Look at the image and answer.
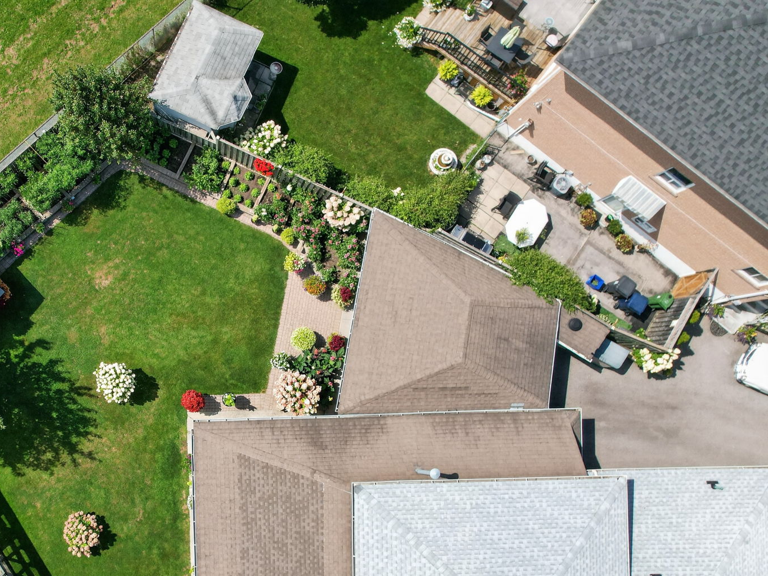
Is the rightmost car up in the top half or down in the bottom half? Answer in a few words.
bottom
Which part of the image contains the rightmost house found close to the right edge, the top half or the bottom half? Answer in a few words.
top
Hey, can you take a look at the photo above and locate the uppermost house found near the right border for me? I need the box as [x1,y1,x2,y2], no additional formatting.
[497,0,768,327]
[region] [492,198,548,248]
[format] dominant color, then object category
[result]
white umbrella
